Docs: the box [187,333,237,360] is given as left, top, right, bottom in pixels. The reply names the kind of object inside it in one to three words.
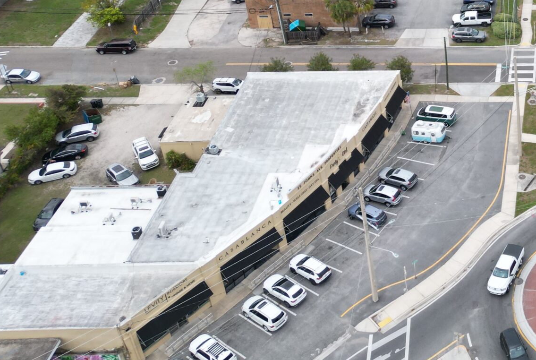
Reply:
car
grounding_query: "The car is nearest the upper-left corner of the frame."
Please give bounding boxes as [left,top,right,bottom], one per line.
[0,68,43,85]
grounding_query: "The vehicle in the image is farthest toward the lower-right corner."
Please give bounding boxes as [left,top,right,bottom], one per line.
[496,325,531,360]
